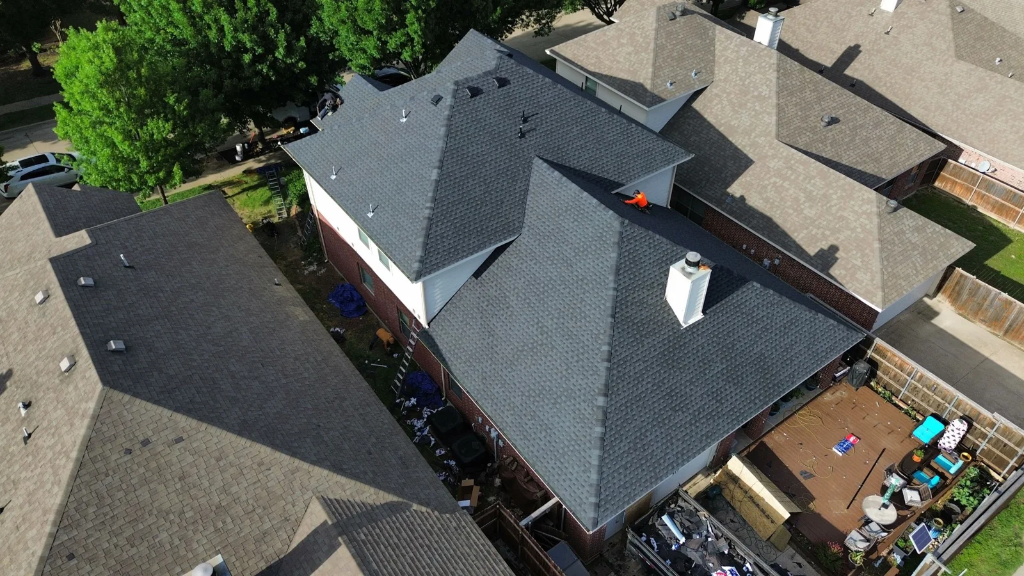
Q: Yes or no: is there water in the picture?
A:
No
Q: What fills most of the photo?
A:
buildings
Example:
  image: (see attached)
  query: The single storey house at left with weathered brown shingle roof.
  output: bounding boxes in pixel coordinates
[0,172,513,576]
